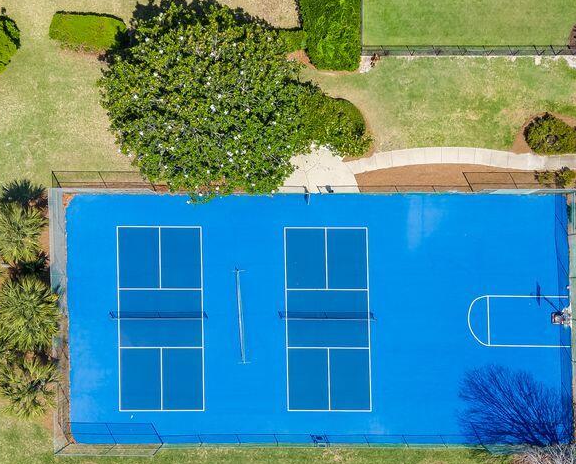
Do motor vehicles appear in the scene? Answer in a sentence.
No, there isn't any motor vehicle down there.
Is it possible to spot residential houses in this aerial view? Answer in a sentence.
No, there isn't any residential house down there.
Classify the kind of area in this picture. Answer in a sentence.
What you see here is a sports ground.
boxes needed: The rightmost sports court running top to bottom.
[284,227,372,412]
